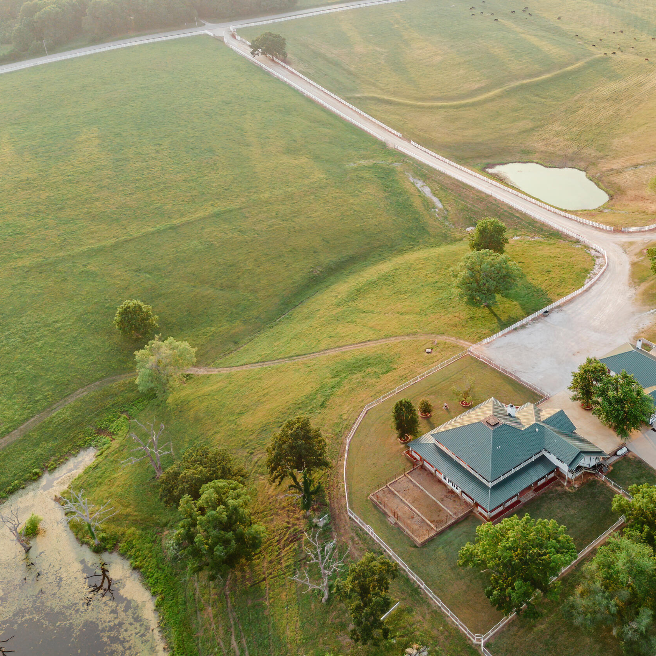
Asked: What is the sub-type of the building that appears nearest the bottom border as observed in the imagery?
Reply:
house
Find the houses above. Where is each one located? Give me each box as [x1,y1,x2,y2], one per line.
[598,338,656,419]
[407,396,610,526]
